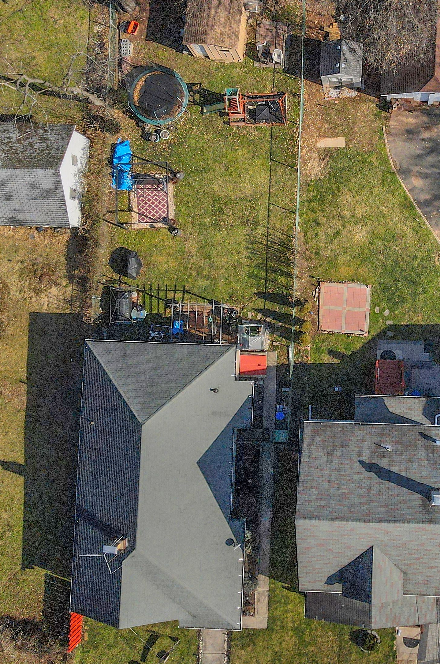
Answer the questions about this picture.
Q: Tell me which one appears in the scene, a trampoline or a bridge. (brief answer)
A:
trampoline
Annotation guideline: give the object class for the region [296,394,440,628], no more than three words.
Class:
house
